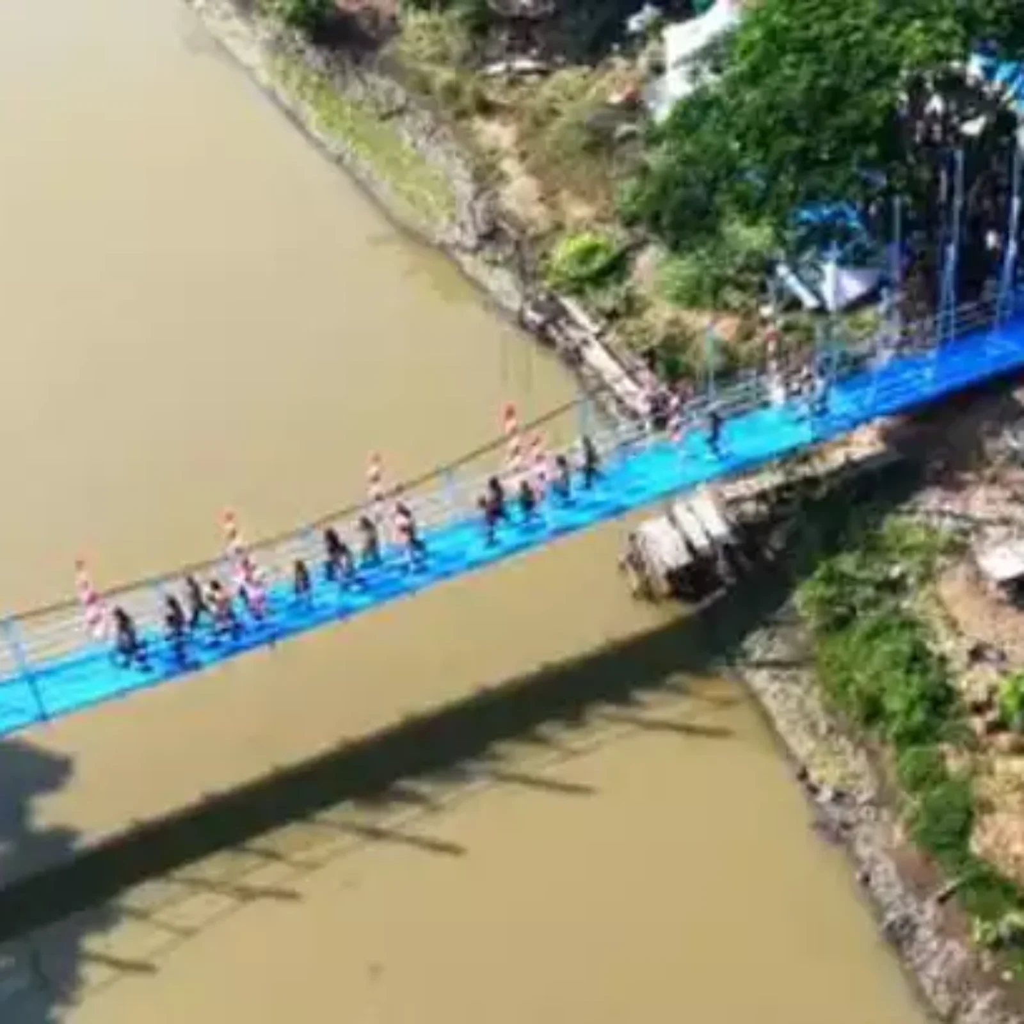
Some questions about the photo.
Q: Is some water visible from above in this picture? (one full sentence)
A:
Yes, water shows up in the scene.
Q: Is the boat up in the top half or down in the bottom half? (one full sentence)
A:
The top half of the photo is where the boat is.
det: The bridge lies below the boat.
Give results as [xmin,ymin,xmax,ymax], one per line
[0,94,1024,748]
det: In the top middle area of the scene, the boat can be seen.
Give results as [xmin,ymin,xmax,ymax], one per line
[481,56,556,78]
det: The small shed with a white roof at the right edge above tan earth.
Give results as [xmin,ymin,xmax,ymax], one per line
[976,539,1024,614]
